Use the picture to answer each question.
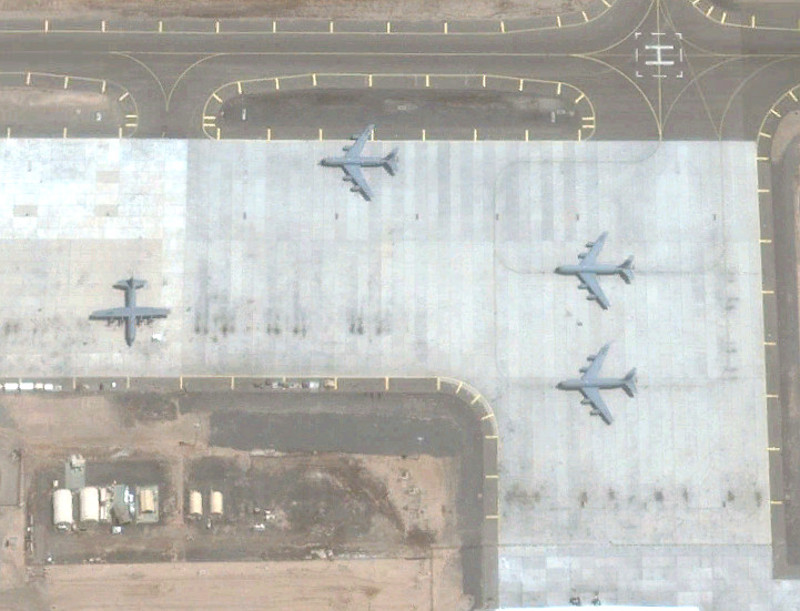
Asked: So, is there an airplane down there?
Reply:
Yes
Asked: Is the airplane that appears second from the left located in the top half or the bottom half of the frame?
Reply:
top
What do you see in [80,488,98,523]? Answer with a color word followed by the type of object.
white tent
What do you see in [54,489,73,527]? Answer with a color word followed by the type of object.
white tent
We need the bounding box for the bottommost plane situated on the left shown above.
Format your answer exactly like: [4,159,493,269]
[93,280,170,346]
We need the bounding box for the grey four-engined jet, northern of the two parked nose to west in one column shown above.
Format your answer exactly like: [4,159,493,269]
[553,232,634,308]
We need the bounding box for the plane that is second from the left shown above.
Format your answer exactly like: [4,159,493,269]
[317,123,398,198]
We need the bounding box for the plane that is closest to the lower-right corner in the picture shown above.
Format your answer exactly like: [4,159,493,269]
[555,345,636,421]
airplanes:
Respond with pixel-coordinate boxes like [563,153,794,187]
[553,232,634,308]
[555,345,636,421]
[317,123,398,198]
[93,280,170,346]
